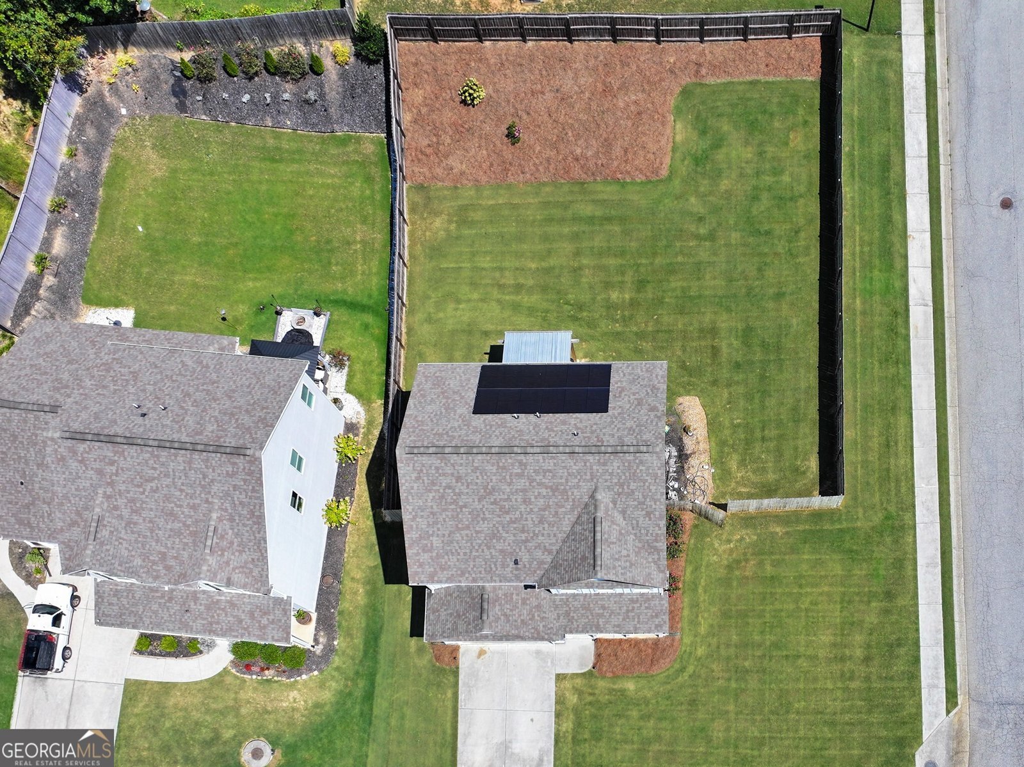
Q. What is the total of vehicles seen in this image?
1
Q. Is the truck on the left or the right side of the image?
left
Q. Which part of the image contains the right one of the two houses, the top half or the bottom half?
bottom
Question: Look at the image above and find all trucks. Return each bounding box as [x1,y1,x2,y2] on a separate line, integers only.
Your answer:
[21,579,80,676]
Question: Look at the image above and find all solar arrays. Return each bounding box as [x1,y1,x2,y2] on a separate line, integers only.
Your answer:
[472,365,613,416]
